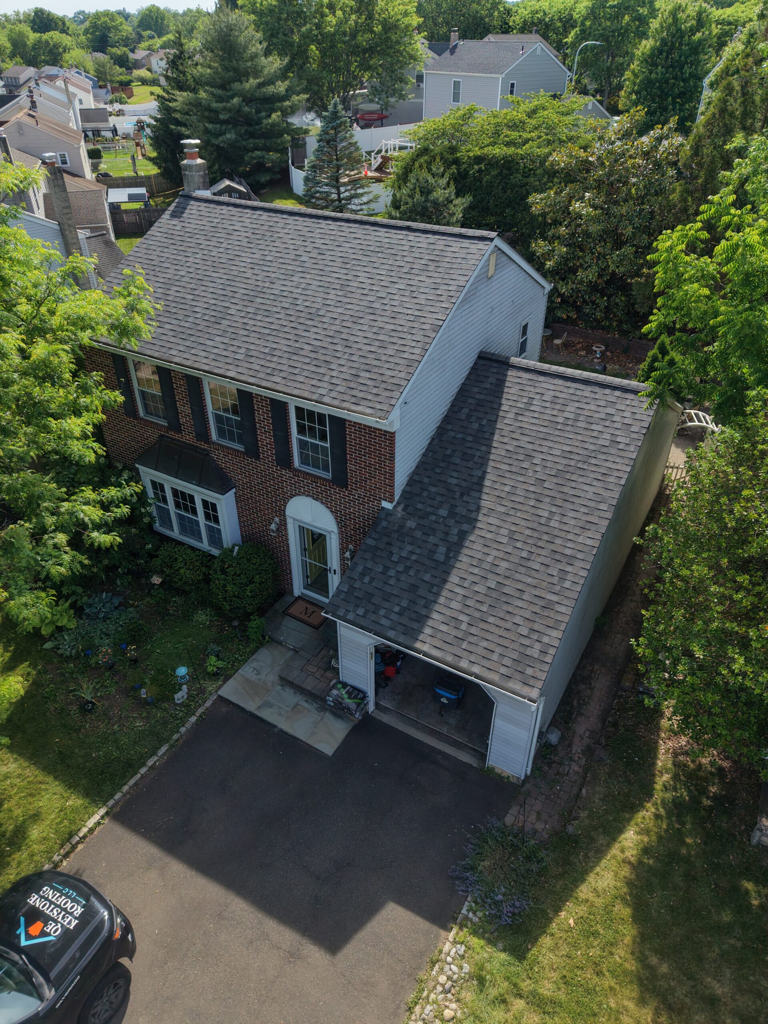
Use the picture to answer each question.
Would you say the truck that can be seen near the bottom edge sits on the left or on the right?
left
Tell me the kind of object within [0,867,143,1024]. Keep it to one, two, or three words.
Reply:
truck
